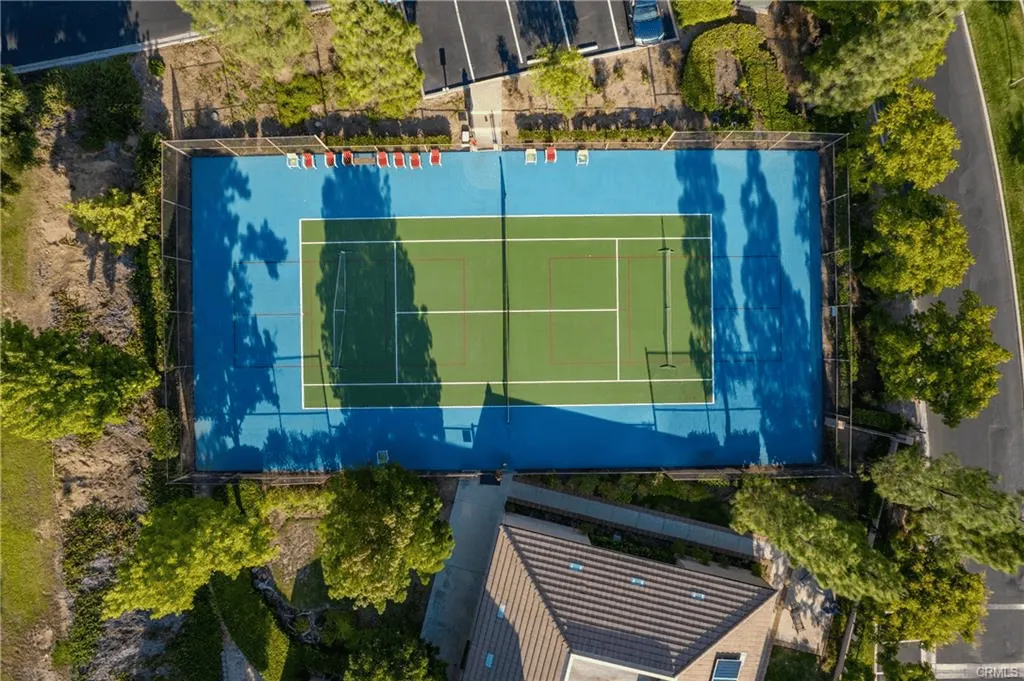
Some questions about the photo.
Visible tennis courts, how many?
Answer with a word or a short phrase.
1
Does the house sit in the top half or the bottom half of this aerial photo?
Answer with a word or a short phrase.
bottom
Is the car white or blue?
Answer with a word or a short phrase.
blue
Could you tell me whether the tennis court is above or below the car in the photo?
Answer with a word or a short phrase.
below it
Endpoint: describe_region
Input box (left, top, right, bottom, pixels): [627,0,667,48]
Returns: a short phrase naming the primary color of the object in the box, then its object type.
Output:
blue car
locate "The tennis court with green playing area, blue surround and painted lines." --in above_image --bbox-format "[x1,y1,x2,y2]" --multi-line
[191,150,823,471]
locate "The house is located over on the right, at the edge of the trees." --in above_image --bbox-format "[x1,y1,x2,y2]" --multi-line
[464,523,779,681]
